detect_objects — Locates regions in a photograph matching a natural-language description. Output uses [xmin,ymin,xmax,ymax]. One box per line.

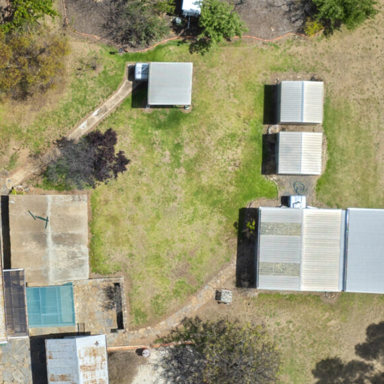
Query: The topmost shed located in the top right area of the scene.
[276,80,324,124]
